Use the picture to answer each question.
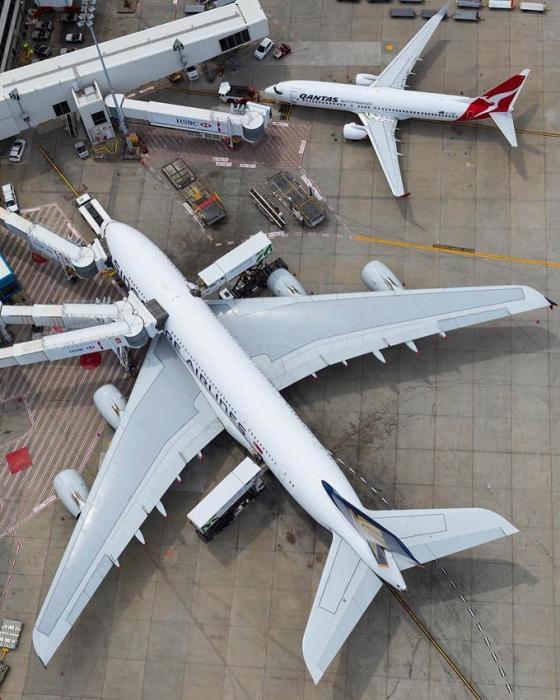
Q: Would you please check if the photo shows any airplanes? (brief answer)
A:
Yes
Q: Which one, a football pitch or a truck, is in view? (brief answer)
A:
truck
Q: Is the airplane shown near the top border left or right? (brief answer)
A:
right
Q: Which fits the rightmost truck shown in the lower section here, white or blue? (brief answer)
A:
white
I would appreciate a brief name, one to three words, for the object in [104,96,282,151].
jet bridge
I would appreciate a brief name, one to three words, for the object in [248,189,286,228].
work vehicle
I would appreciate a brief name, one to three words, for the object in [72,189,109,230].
work vehicle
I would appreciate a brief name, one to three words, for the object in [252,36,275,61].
car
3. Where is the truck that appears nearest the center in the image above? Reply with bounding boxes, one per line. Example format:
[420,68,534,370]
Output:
[205,241,295,306]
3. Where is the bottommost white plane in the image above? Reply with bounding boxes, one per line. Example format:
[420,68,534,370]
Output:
[35,220,556,685]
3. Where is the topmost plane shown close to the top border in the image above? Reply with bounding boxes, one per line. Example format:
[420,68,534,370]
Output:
[265,0,531,196]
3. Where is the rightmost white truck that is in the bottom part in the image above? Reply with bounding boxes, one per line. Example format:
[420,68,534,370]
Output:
[191,455,270,545]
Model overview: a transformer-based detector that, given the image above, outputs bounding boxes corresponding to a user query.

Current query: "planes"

[35,220,556,685]
[265,0,531,196]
